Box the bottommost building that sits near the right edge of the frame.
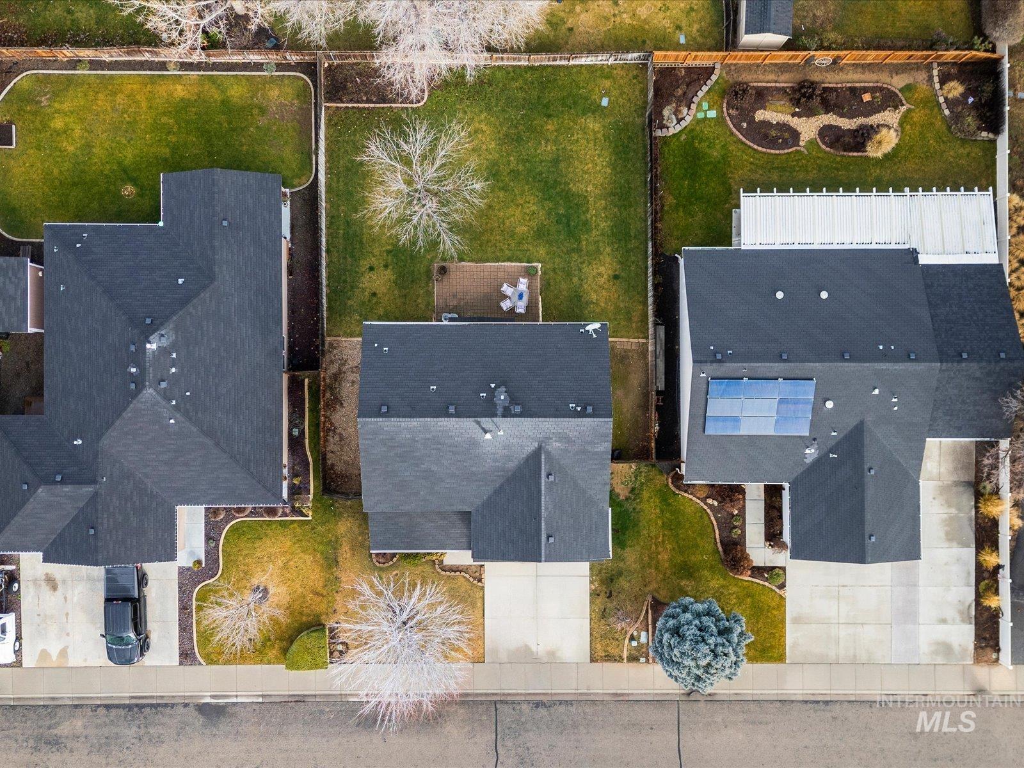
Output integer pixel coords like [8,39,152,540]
[665,246,1024,565]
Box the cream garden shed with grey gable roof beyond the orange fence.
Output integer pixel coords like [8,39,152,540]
[739,0,792,49]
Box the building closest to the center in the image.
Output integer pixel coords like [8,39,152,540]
[356,318,612,567]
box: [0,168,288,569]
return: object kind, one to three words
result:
house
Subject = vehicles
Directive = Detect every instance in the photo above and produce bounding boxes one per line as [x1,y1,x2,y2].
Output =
[97,565,148,671]
[0,568,20,669]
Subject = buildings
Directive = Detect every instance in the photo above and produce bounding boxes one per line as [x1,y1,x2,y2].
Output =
[0,168,288,569]
[356,318,612,567]
[665,246,1024,565]
[739,0,792,49]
